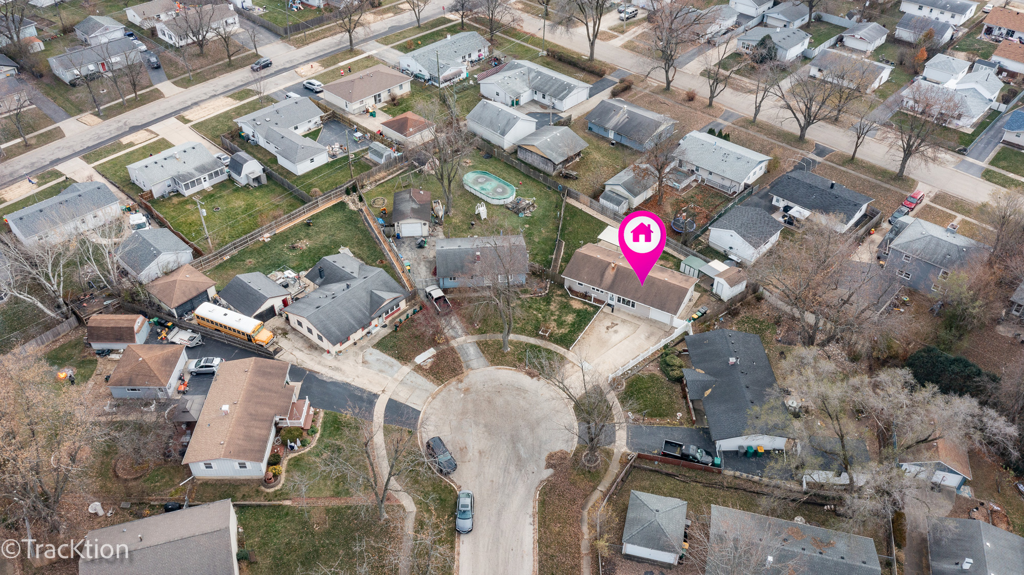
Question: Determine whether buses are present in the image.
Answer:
Yes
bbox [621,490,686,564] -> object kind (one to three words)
building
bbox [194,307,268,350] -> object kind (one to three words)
bus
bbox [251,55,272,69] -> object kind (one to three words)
car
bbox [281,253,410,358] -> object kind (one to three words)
house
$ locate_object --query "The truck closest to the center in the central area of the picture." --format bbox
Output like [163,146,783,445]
[424,287,452,315]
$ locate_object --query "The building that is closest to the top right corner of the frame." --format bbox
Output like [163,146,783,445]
[980,9,1024,46]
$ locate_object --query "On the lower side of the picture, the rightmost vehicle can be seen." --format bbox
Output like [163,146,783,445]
[661,435,713,465]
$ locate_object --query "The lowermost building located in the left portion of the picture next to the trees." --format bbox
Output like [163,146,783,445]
[75,498,236,575]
